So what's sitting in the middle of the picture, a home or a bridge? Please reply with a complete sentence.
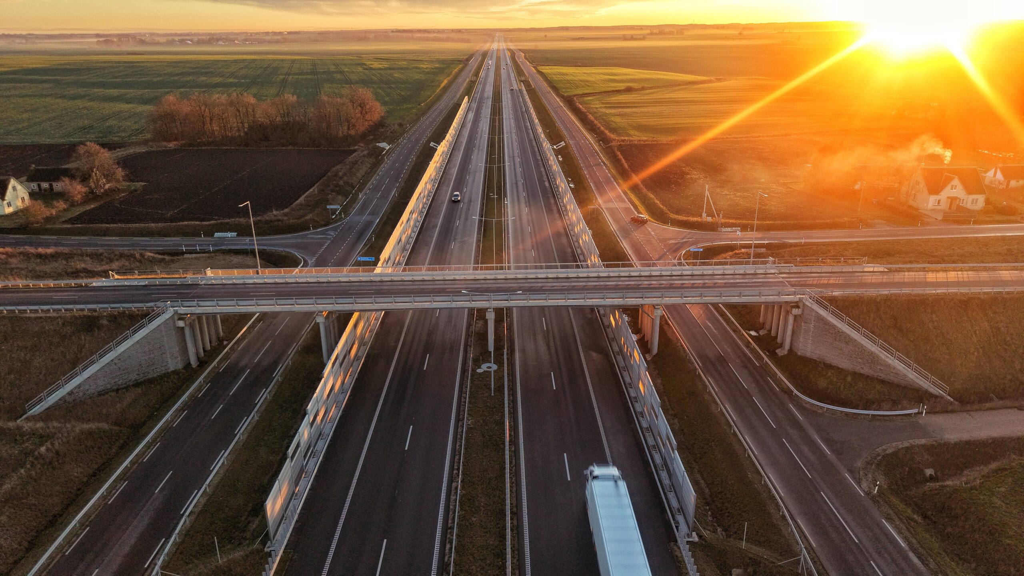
The feature located in the middle of the picture is a bridge.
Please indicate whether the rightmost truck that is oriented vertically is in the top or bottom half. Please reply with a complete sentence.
You can find the rightmost truck that is oriented vertically in the bottom half.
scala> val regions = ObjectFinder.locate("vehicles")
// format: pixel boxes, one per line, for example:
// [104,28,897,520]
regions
[451,192,461,201]
[583,461,650,576]
[629,212,650,222]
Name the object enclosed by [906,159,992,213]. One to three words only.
house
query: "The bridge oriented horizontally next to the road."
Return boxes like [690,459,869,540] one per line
[176,264,806,366]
